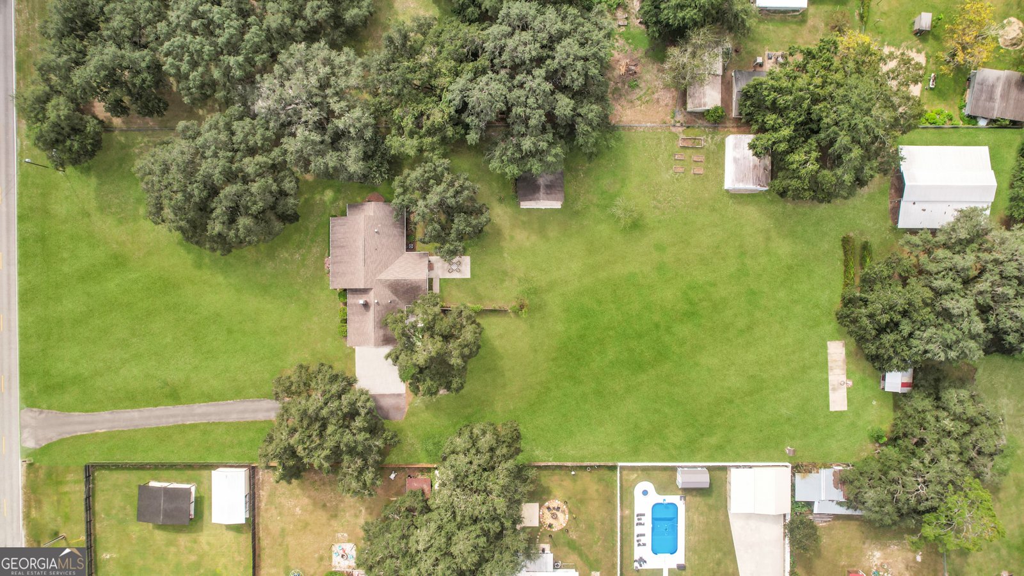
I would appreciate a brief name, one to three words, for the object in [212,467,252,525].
building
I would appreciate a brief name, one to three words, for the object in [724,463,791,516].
building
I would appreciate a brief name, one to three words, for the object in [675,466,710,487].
shed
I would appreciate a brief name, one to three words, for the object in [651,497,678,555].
swimming pool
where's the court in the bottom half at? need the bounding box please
[828,341,847,411]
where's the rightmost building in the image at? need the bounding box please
[965,68,1024,124]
